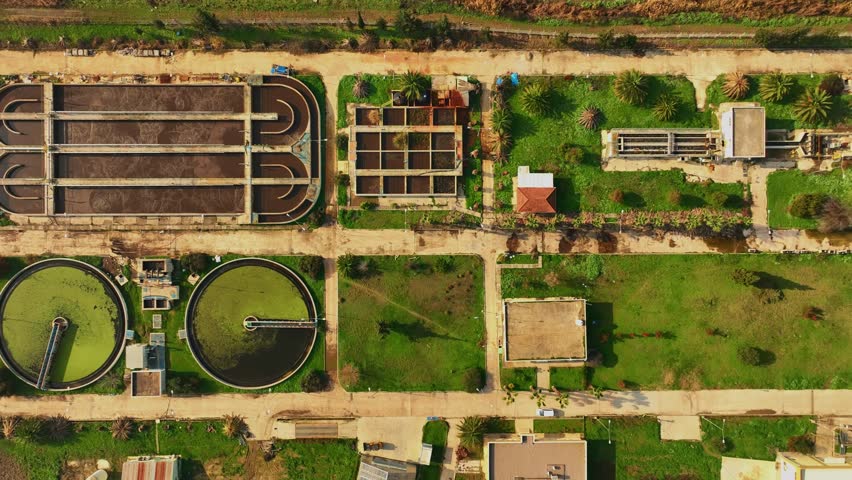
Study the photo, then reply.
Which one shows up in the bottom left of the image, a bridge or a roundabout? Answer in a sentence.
Visible in the bottom left of the image is a bridge.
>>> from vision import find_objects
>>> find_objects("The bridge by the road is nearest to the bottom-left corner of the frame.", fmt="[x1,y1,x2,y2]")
[32,320,64,392]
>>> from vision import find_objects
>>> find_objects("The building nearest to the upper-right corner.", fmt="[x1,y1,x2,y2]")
[721,106,765,161]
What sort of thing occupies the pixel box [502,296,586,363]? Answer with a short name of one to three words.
building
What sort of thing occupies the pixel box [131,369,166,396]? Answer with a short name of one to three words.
shed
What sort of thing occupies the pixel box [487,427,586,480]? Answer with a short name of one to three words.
building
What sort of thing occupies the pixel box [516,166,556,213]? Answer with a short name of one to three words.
house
